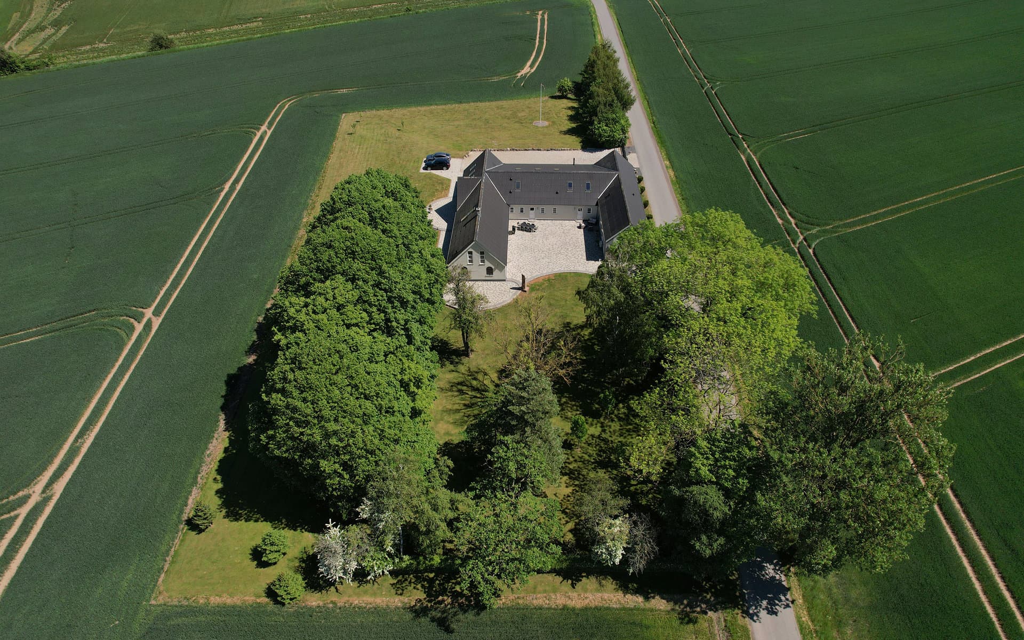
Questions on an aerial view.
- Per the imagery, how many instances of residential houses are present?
one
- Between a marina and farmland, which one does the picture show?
farmland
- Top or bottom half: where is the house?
top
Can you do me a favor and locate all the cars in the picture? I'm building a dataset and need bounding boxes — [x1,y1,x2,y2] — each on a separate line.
[426,157,451,169]
[424,151,452,161]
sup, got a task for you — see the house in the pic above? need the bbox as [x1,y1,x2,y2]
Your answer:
[447,149,647,280]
